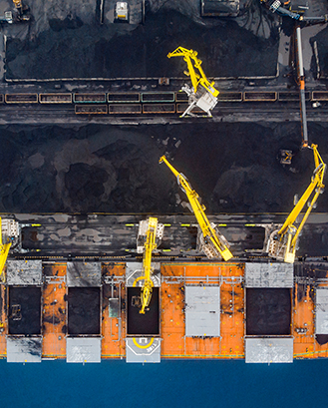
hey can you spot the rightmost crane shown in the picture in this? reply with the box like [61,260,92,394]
[247,144,327,262]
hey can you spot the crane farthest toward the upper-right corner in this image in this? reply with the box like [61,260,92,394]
[164,45,224,119]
